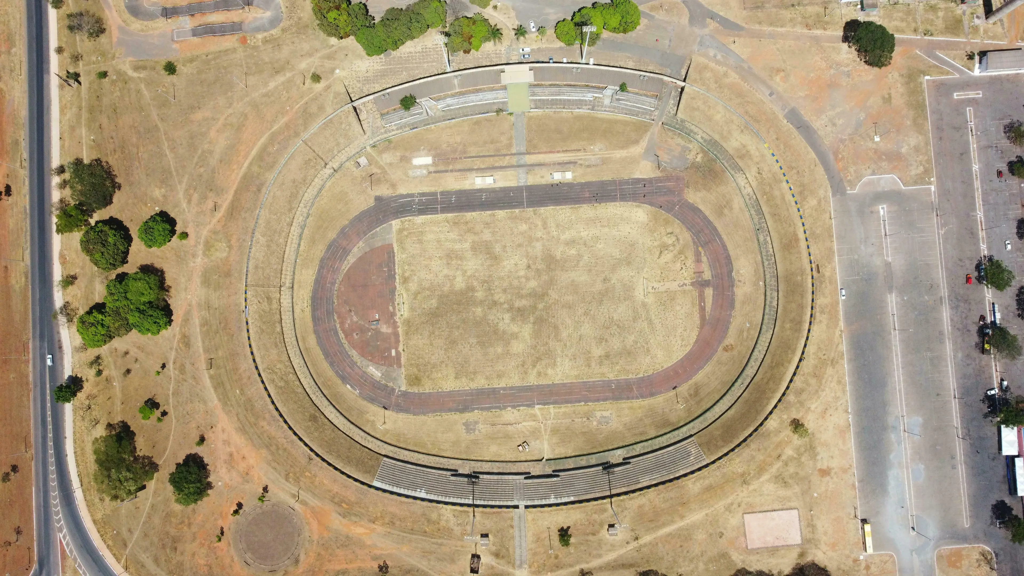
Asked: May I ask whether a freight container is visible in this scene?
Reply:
No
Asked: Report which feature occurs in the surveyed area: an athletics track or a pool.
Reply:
athletics track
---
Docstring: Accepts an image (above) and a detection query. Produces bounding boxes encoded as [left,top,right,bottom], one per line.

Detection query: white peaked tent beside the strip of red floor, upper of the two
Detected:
[996,424,1019,455]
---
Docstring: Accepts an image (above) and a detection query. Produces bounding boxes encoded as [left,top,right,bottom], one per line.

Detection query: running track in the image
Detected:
[311,175,735,415]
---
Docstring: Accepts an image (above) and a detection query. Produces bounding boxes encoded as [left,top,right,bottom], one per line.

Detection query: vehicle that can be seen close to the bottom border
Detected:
[861,522,873,553]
